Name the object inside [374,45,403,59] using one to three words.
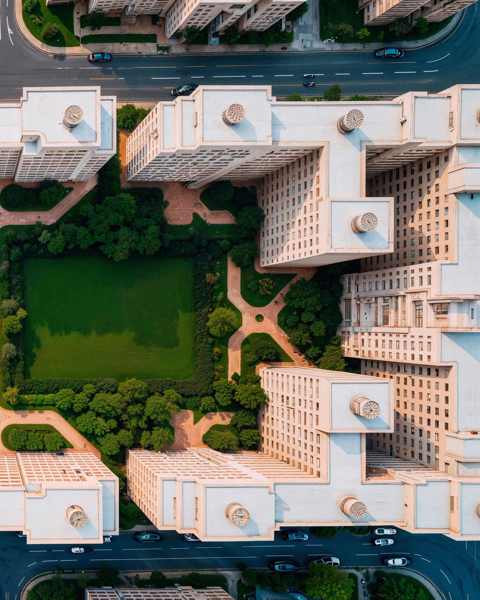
car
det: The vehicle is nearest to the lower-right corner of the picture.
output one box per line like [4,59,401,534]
[383,556,410,569]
